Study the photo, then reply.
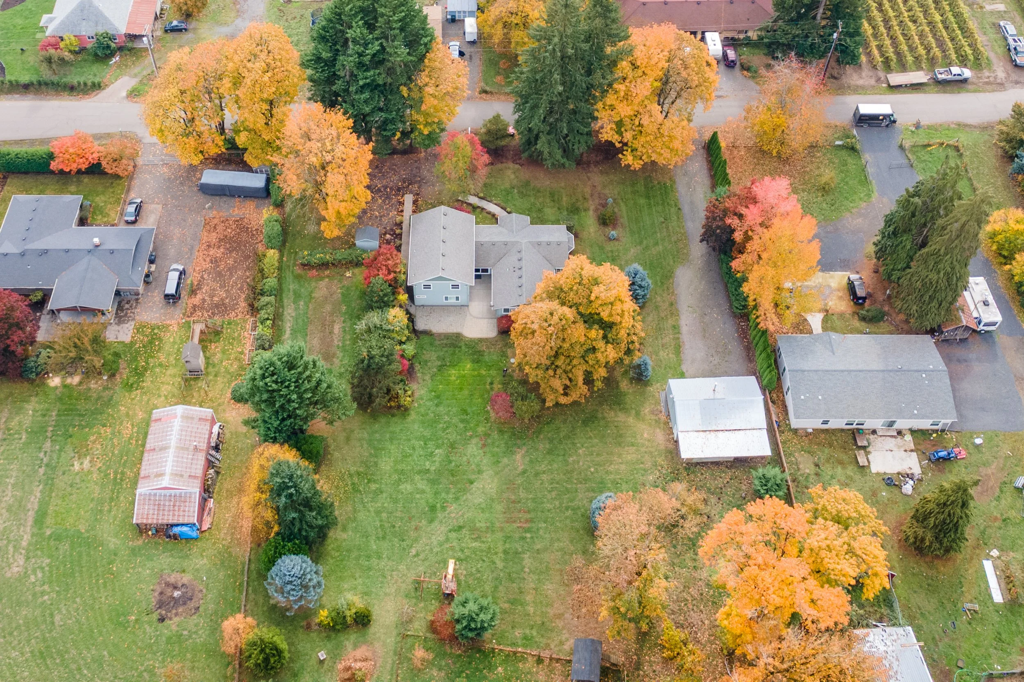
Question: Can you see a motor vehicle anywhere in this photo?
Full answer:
Yes, the image includes a motor vehicle.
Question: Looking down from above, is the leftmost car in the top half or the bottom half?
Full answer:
The top half of the photo is where the leftmost car is.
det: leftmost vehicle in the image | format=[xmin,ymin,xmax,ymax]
[122,196,142,221]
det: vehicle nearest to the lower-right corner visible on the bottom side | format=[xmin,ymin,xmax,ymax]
[926,445,969,468]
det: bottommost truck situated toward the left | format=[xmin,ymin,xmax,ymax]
[163,264,187,300]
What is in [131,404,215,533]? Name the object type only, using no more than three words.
barn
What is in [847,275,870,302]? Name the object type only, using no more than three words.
car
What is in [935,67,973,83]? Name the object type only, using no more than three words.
vehicle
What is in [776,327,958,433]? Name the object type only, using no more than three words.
house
